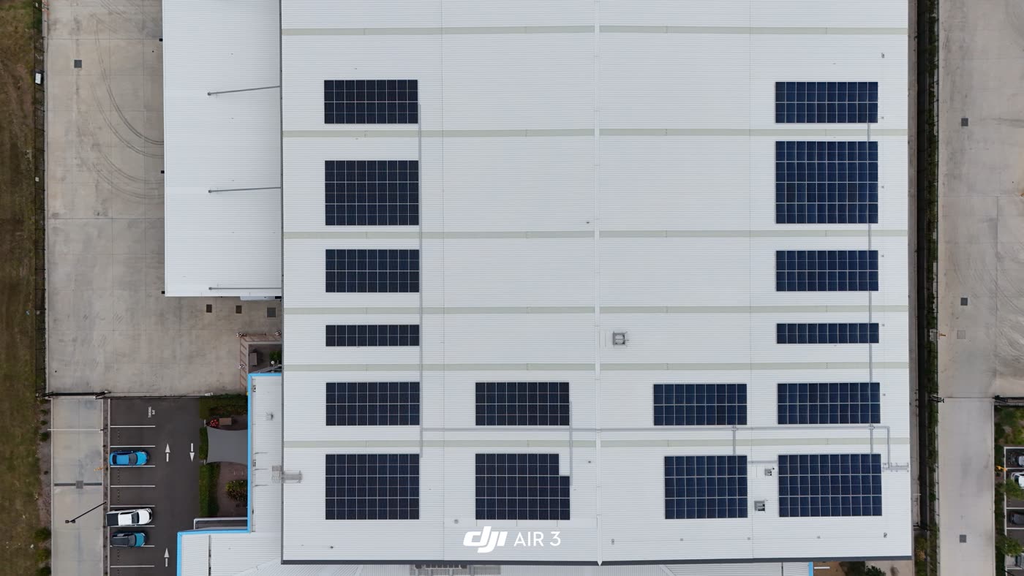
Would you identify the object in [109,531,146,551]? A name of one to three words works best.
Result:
car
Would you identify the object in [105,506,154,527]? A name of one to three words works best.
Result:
truck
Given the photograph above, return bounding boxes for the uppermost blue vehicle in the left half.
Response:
[110,450,149,468]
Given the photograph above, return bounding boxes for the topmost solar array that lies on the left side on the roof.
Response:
[324,78,419,124]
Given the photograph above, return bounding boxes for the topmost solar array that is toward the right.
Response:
[775,82,878,123]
